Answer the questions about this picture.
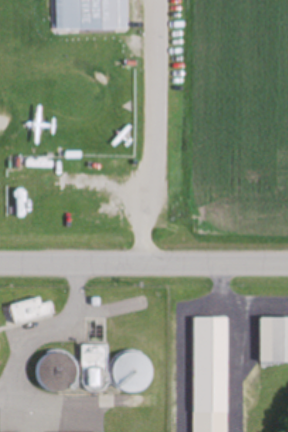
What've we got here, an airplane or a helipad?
airplane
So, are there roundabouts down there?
No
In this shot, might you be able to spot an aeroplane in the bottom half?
No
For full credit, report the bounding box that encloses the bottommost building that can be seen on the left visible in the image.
[81,344,109,394]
